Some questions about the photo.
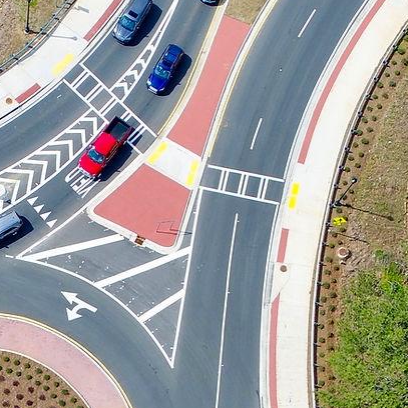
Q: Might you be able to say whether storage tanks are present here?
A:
No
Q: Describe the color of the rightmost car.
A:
blue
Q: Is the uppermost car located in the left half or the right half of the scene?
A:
left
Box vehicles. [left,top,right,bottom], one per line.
[0,209,22,237]
[116,0,151,38]
[149,41,184,90]
[82,112,133,171]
